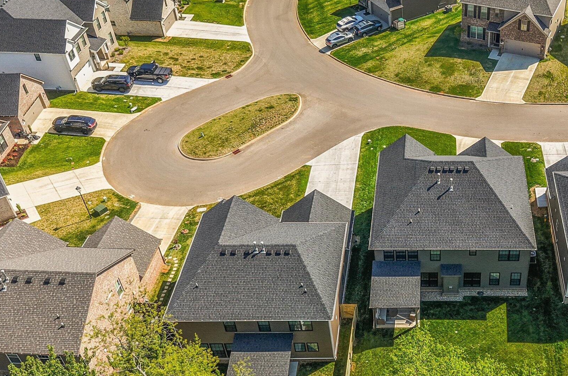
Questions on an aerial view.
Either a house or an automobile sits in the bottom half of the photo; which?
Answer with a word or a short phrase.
house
